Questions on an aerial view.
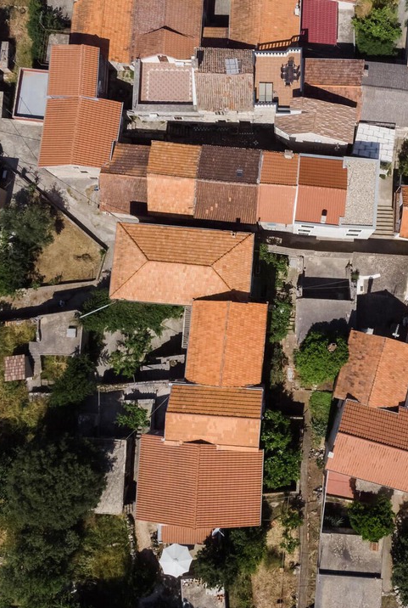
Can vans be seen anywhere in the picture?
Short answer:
No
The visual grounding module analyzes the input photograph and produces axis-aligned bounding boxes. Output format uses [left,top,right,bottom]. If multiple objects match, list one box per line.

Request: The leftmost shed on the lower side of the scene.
[4,354,32,382]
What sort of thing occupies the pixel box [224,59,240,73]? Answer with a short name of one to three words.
solar panel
